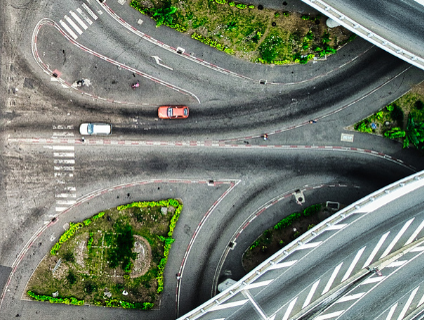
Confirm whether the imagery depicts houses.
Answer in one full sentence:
No, this view has no house in it.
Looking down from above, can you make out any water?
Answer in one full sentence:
No, the picture contains no water.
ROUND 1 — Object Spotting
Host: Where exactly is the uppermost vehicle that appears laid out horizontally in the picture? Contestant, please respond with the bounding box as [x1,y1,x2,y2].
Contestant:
[157,103,190,119]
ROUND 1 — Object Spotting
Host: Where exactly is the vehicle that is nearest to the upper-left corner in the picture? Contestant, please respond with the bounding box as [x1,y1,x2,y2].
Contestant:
[78,121,111,136]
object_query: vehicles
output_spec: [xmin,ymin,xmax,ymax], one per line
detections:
[78,121,111,136]
[157,103,190,119]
